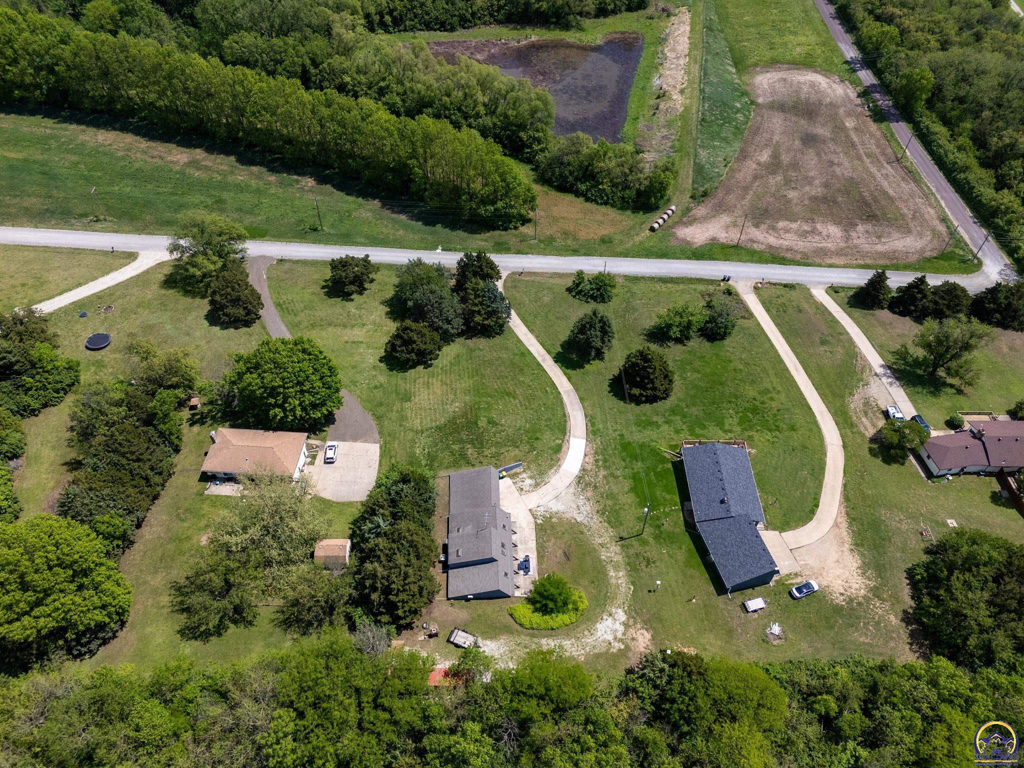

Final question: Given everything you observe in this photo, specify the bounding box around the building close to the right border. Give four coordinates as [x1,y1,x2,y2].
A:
[922,420,1024,478]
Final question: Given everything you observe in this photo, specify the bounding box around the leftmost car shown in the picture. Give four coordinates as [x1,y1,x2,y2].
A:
[322,441,338,464]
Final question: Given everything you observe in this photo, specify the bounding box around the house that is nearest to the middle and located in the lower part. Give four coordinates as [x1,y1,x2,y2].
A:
[431,465,521,601]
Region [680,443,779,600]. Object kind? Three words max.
house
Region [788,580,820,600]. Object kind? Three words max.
car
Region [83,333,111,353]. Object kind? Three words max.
trampoline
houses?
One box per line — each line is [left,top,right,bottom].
[680,443,779,600]
[922,420,1024,478]
[431,465,521,601]
[201,427,308,485]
